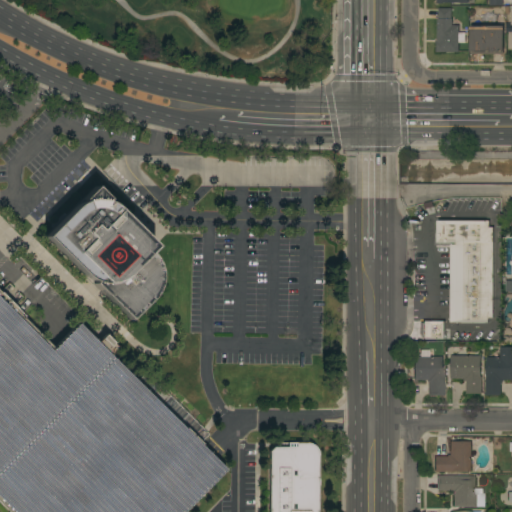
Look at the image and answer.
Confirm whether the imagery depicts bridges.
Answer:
Yes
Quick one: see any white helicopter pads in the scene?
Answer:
No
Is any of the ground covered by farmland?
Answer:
No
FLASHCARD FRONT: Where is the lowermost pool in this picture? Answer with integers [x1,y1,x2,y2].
[476,444,490,468]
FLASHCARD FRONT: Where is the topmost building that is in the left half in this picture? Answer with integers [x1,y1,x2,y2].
[50,187,163,283]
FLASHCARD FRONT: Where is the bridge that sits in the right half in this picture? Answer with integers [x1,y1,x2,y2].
[344,152,400,198]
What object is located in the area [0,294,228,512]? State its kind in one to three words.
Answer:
warehouse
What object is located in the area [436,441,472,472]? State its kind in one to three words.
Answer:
house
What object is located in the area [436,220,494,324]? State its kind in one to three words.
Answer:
building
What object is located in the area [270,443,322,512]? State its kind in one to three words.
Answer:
building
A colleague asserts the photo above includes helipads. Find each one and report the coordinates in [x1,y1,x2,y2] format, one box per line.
[98,234,141,277]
